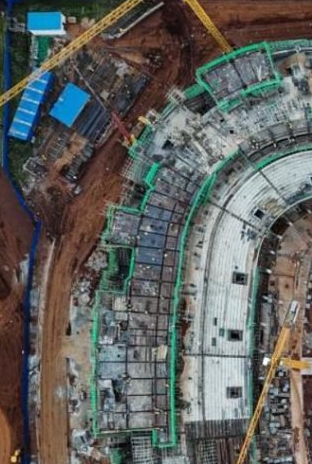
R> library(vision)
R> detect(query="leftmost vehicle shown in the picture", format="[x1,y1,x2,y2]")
[9,449,21,464]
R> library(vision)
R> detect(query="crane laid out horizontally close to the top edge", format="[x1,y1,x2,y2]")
[0,0,241,109]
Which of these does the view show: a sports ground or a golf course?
sports ground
